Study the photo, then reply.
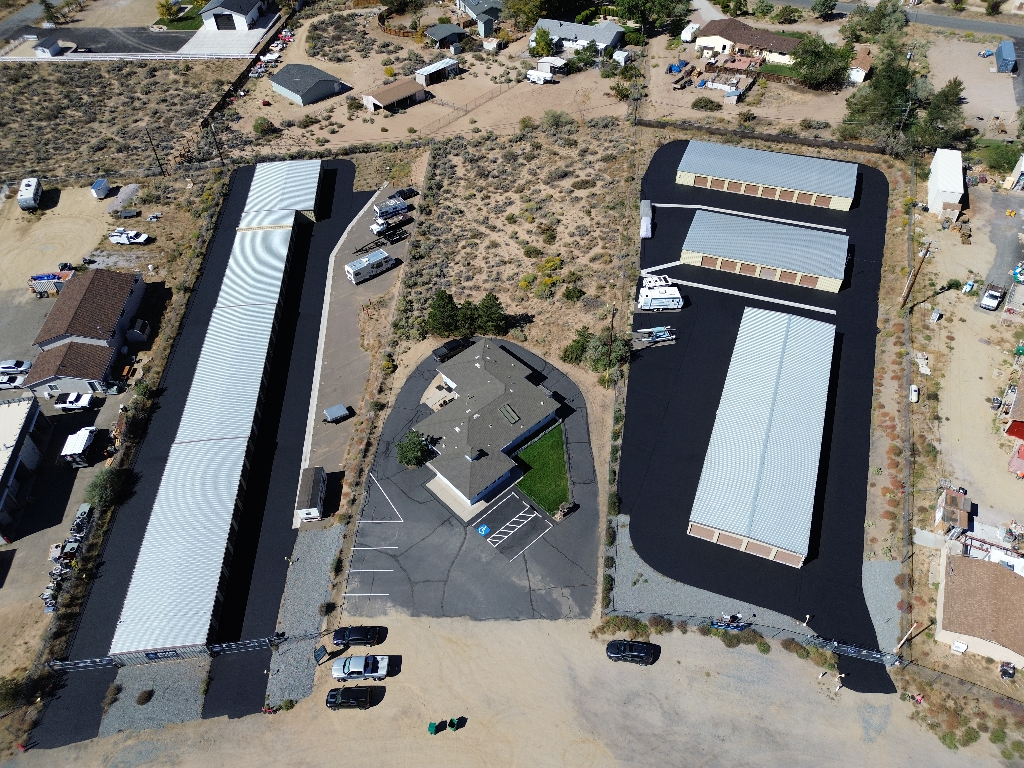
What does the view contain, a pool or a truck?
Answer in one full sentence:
Looking from above, you can make out a truck.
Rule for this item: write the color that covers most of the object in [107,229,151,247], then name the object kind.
white vehicle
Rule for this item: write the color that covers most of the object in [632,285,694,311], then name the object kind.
white trailer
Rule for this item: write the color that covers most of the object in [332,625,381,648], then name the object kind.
black car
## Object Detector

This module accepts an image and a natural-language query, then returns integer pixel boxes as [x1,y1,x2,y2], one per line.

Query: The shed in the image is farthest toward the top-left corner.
[32,34,67,58]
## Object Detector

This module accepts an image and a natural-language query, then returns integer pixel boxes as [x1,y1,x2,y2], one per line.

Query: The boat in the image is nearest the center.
[628,325,676,341]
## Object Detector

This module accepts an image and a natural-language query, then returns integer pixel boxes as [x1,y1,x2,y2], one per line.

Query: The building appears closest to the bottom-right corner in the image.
[937,552,1019,662]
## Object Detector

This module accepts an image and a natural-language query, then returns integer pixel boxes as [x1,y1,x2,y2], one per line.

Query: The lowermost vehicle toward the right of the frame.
[606,639,654,667]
